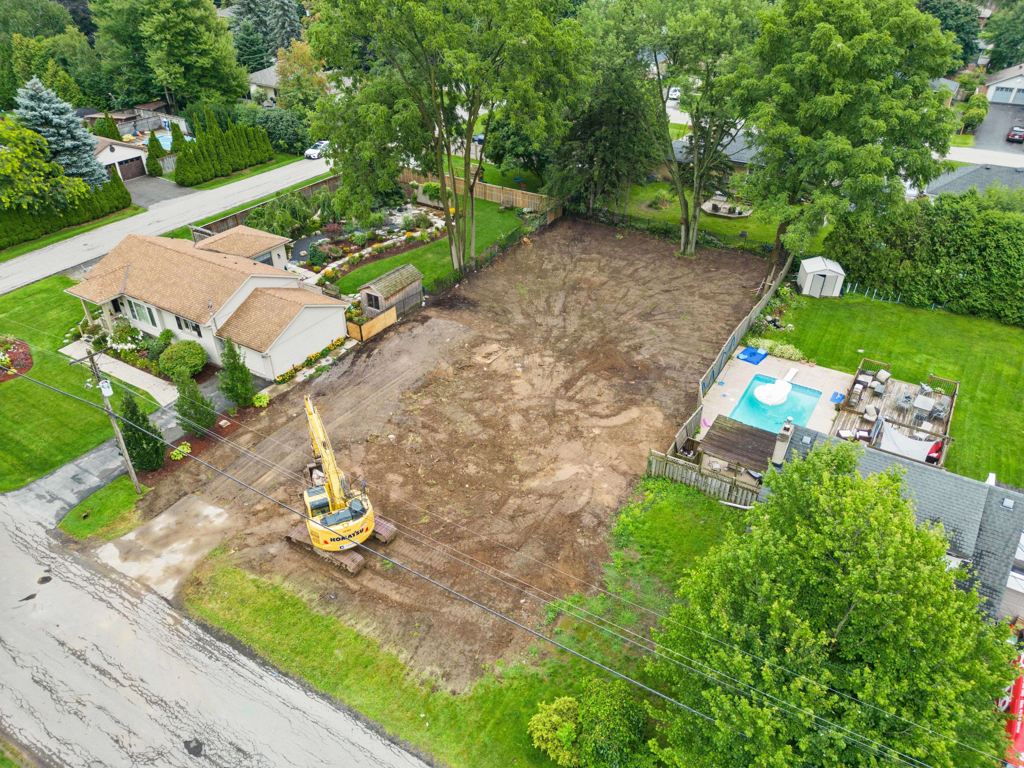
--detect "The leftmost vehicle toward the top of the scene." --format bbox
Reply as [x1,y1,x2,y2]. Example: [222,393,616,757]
[303,143,337,159]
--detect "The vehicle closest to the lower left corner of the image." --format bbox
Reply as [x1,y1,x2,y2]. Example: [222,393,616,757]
[287,390,396,575]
